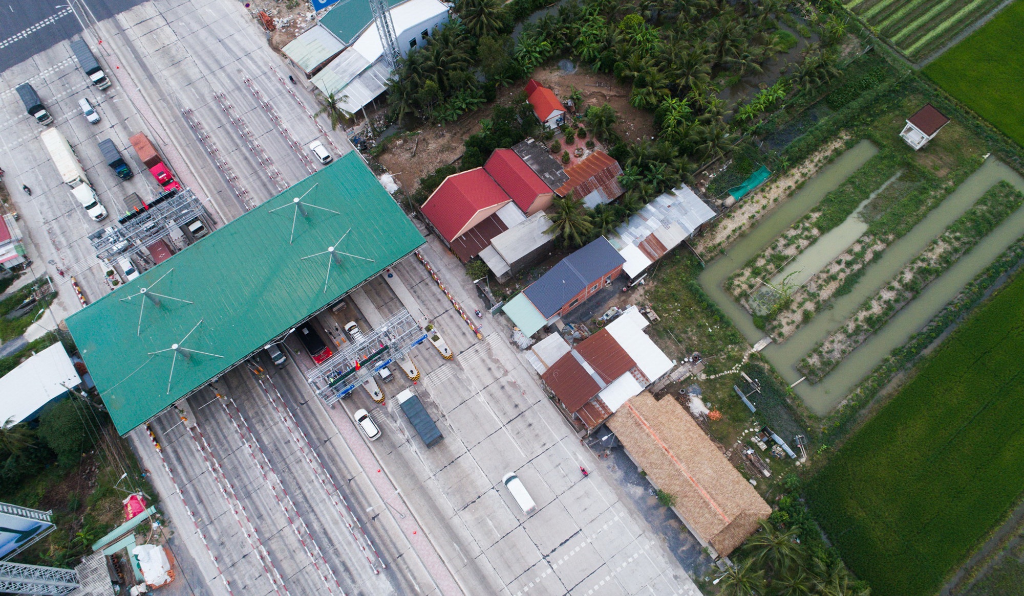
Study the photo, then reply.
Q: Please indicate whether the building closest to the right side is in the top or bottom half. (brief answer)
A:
top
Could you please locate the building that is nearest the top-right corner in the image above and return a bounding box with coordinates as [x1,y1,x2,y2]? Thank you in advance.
[895,103,951,153]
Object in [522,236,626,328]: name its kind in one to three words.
house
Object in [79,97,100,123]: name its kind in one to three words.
car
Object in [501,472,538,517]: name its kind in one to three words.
vehicle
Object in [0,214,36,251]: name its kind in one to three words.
building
